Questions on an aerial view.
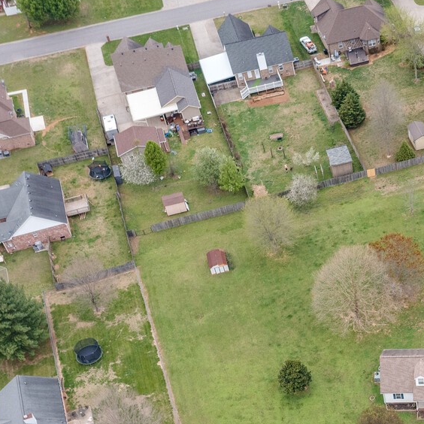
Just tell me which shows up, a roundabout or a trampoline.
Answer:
trampoline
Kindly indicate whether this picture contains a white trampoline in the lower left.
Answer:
No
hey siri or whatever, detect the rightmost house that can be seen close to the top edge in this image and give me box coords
[309,0,390,56]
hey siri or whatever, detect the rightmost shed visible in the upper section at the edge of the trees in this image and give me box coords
[406,122,424,148]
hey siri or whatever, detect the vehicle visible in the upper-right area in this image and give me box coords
[301,36,316,53]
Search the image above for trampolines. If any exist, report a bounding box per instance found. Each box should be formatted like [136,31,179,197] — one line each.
[86,157,110,180]
[72,337,102,365]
